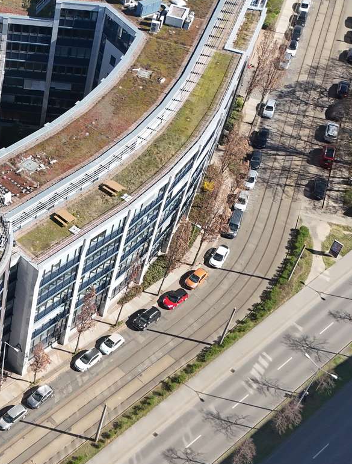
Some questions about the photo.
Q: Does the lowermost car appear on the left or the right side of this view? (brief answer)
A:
left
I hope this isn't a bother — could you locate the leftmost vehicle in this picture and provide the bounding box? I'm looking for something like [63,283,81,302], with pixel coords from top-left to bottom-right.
[0,402,30,434]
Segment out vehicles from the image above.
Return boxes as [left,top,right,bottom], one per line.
[253,126,270,149]
[262,98,278,119]
[225,209,245,235]
[313,177,331,200]
[98,331,126,357]
[335,81,351,99]
[244,169,261,191]
[184,266,210,291]
[248,150,264,171]
[161,287,186,312]
[131,304,164,331]
[71,347,103,374]
[291,23,305,39]
[0,402,30,434]
[299,0,311,11]
[23,383,55,411]
[234,189,252,212]
[208,243,232,270]
[322,143,338,164]
[344,48,352,63]
[324,122,341,142]
[294,8,308,25]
